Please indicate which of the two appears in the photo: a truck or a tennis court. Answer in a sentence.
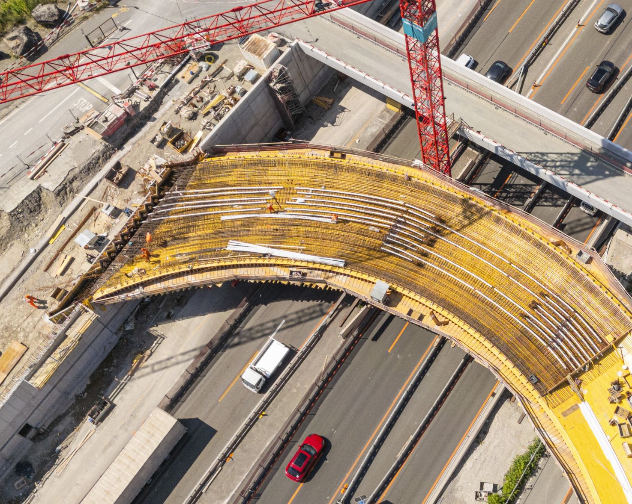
The image shows a truck.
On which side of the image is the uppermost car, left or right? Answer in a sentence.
The uppermost car appears in the right half of the scene.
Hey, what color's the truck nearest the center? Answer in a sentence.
From above, the truck nearest the center appears white.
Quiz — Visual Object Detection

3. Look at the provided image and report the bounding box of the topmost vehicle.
[595,2,625,35]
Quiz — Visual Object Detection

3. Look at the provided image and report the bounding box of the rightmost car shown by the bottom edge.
[285,432,326,486]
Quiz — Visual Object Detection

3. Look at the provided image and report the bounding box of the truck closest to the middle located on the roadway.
[231,318,290,408]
